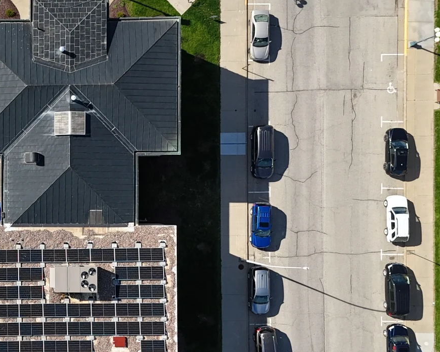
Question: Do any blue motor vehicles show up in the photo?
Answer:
Yes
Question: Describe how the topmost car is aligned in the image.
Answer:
from top to bottom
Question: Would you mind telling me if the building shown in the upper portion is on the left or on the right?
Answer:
left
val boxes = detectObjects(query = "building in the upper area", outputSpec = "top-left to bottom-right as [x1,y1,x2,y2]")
[0,0,183,225]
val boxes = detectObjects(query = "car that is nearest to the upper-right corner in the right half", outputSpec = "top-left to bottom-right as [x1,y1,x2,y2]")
[383,129,410,177]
